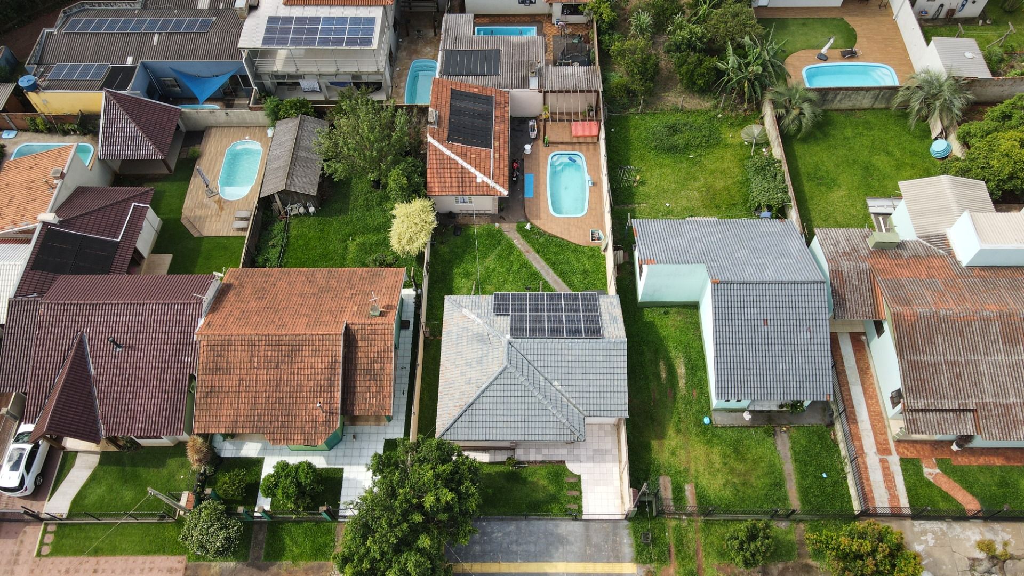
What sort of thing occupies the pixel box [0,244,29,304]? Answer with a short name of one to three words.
shed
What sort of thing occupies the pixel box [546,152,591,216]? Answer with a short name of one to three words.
swimming pool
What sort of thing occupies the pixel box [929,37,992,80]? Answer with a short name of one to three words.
shed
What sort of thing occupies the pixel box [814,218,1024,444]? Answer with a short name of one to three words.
house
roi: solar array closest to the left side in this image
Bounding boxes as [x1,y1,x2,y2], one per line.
[47,64,109,79]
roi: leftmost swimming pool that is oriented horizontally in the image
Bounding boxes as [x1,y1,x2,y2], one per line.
[10,143,94,163]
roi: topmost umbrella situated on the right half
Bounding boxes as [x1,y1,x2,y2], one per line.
[816,38,833,62]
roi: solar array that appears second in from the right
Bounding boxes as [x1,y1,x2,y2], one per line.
[262,17,375,47]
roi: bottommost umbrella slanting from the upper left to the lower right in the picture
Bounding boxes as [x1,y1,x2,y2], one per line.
[197,168,218,197]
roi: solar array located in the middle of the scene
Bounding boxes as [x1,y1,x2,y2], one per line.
[494,292,601,338]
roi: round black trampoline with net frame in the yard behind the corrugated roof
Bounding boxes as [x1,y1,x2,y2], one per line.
[558,32,594,66]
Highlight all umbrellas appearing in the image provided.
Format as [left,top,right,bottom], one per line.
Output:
[197,168,218,197]
[816,38,833,62]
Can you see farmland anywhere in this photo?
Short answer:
No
